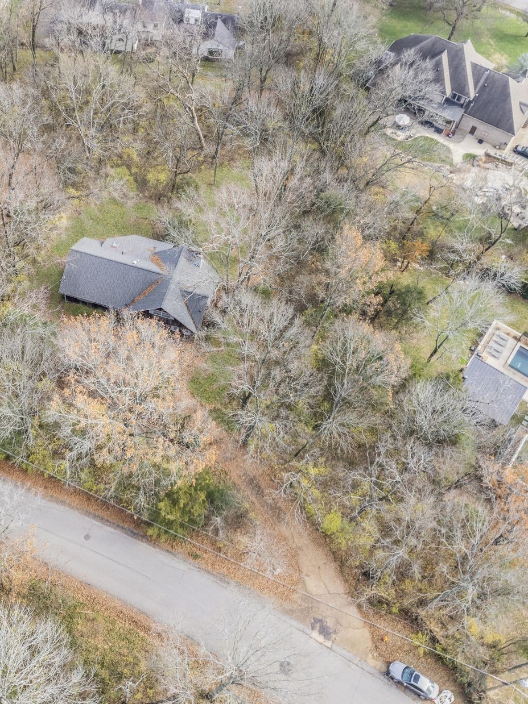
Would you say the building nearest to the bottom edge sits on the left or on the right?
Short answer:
right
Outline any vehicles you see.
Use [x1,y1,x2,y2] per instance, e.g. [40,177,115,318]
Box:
[388,661,442,704]
[510,138,528,155]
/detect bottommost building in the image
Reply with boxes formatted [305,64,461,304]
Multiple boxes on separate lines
[457,355,527,431]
